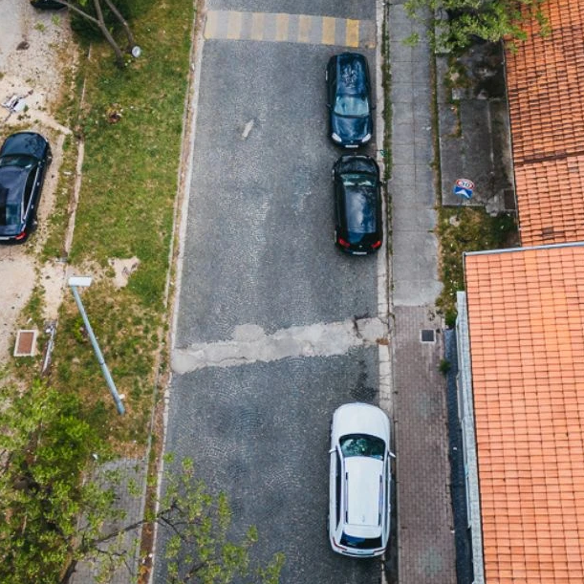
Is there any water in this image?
No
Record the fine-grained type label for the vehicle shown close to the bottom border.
car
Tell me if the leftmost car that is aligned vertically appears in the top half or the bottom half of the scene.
top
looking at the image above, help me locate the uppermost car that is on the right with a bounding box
[325,47,381,149]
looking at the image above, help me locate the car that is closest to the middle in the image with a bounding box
[328,150,389,258]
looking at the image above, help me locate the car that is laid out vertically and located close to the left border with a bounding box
[0,129,50,246]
